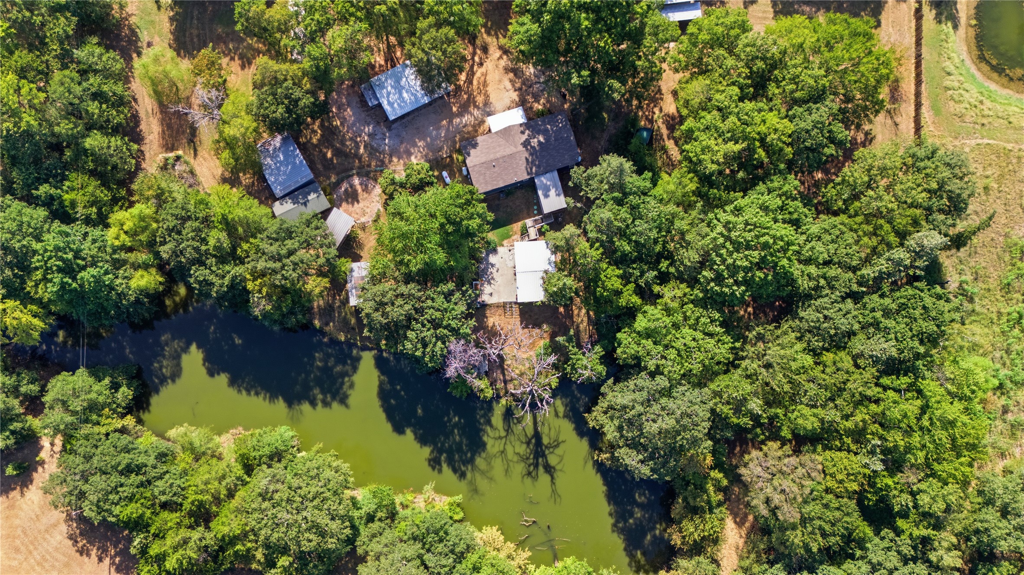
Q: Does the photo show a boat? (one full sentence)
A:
No, there appears to be no boat in this shot.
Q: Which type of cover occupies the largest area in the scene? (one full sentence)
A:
For the most part, this view shows trees.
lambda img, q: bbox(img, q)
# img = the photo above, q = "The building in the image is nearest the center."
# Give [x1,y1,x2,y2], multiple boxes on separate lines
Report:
[514,240,556,302]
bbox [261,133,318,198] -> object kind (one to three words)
shed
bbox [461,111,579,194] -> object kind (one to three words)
house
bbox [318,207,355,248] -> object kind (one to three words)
shed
